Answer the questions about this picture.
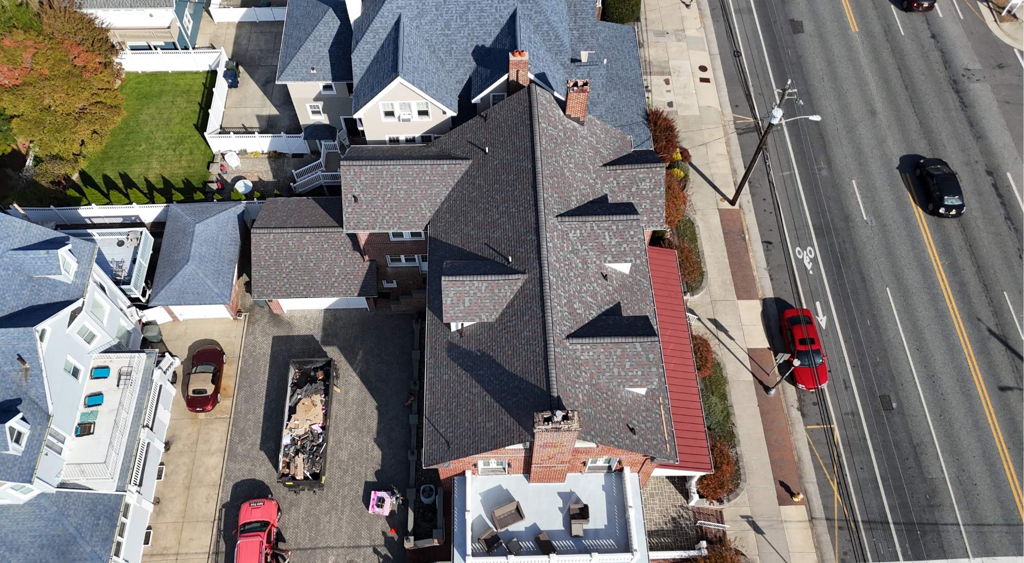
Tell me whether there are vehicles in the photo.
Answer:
Yes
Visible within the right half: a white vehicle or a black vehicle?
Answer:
black vehicle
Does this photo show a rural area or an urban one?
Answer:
urban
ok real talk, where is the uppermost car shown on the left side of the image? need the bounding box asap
[183,341,228,416]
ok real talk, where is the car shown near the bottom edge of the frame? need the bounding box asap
[236,499,301,563]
